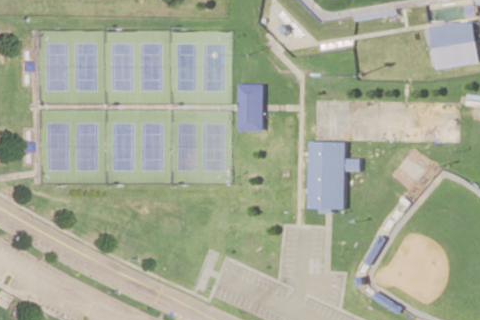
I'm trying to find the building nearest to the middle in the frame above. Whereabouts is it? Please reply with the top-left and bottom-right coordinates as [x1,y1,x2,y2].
[236,84,265,132]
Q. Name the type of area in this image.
sports ground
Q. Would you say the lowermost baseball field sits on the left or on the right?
right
